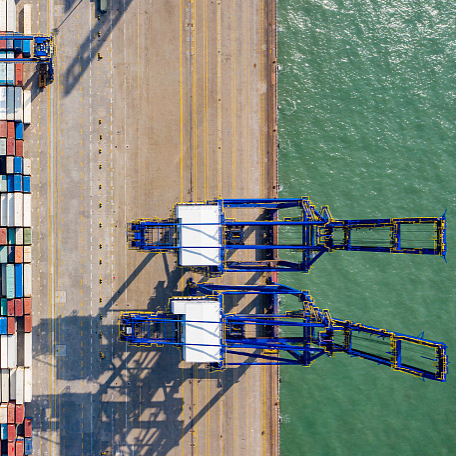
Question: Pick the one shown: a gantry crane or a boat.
gantry crane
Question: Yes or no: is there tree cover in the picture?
No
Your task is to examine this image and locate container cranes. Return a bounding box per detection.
[0,34,56,87]
[112,271,453,389]
[123,194,453,280]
